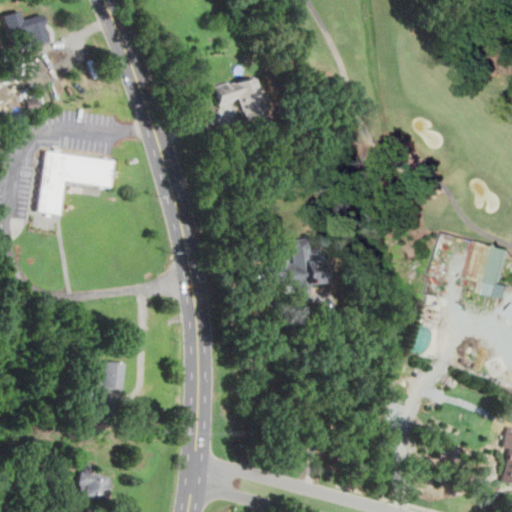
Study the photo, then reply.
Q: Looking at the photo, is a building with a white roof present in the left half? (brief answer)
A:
Yes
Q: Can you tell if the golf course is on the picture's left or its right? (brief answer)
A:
right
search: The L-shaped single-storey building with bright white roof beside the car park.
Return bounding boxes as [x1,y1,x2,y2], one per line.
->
[37,146,119,219]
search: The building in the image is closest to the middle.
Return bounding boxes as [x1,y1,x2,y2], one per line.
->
[290,240,329,286]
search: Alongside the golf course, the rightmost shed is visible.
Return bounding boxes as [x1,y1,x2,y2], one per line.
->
[483,244,506,284]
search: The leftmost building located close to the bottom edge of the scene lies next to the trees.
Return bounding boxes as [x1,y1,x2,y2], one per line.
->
[80,465,112,498]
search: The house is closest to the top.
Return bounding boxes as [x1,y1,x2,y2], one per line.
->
[5,12,50,43]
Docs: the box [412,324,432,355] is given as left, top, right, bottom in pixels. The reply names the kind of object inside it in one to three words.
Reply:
swimming pool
